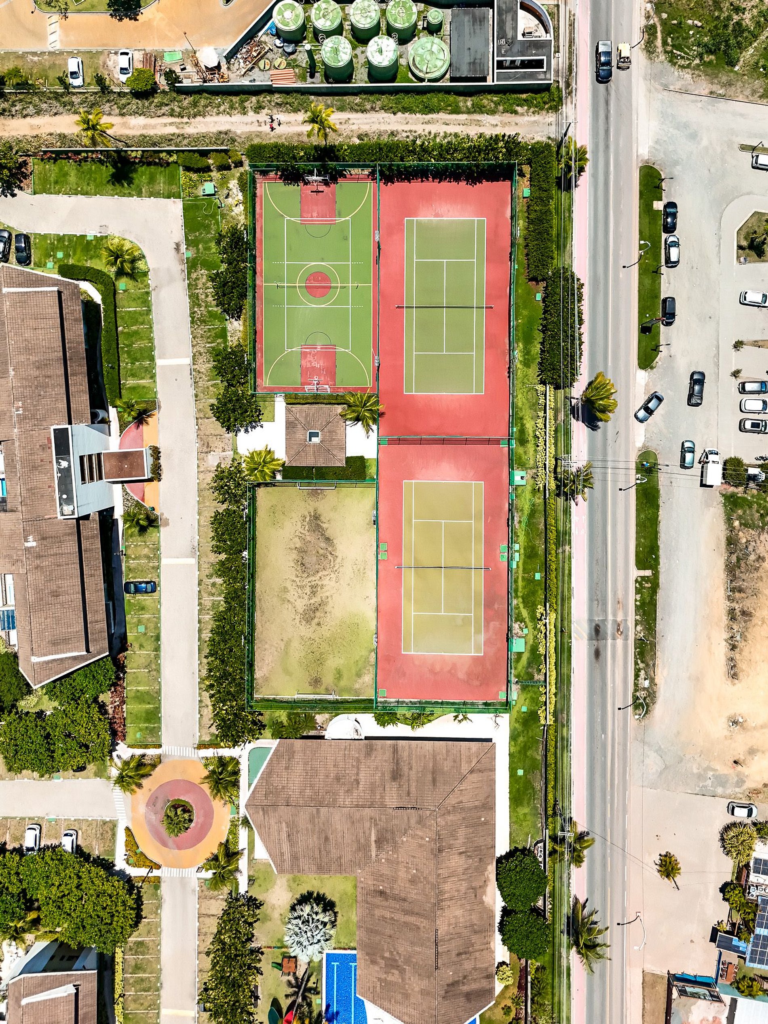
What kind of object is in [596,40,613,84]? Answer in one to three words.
vehicle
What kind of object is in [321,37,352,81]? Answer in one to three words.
storage tank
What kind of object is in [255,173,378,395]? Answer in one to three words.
sports court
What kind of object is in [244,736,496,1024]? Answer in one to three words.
building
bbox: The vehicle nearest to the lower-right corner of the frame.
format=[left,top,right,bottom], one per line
[726,801,758,819]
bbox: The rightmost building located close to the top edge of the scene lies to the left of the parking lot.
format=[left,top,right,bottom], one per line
[492,0,555,92]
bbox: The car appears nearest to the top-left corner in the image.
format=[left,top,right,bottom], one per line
[69,55,85,89]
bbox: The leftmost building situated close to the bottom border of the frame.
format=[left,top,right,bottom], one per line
[8,941,113,1024]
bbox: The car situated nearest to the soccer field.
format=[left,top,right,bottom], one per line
[124,579,157,596]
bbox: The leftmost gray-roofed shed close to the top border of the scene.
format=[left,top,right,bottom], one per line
[450,8,489,83]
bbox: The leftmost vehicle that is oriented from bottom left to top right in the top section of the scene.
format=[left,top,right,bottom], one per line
[636,390,662,423]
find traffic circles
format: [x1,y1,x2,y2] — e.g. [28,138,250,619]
[128,760,231,868]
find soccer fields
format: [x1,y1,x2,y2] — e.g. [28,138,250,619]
[254,485,376,698]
